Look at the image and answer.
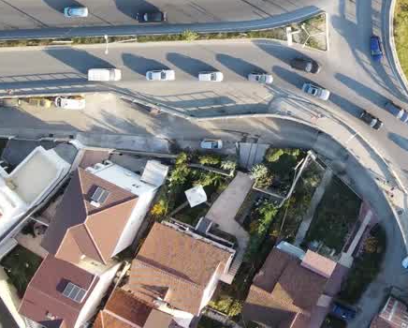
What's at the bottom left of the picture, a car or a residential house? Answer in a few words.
residential house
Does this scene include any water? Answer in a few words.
No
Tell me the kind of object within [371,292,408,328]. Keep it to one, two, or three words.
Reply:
house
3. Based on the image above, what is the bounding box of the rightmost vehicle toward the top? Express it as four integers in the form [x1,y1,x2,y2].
[383,101,408,123]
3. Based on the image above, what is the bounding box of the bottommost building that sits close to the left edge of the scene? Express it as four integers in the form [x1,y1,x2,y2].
[19,255,131,328]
